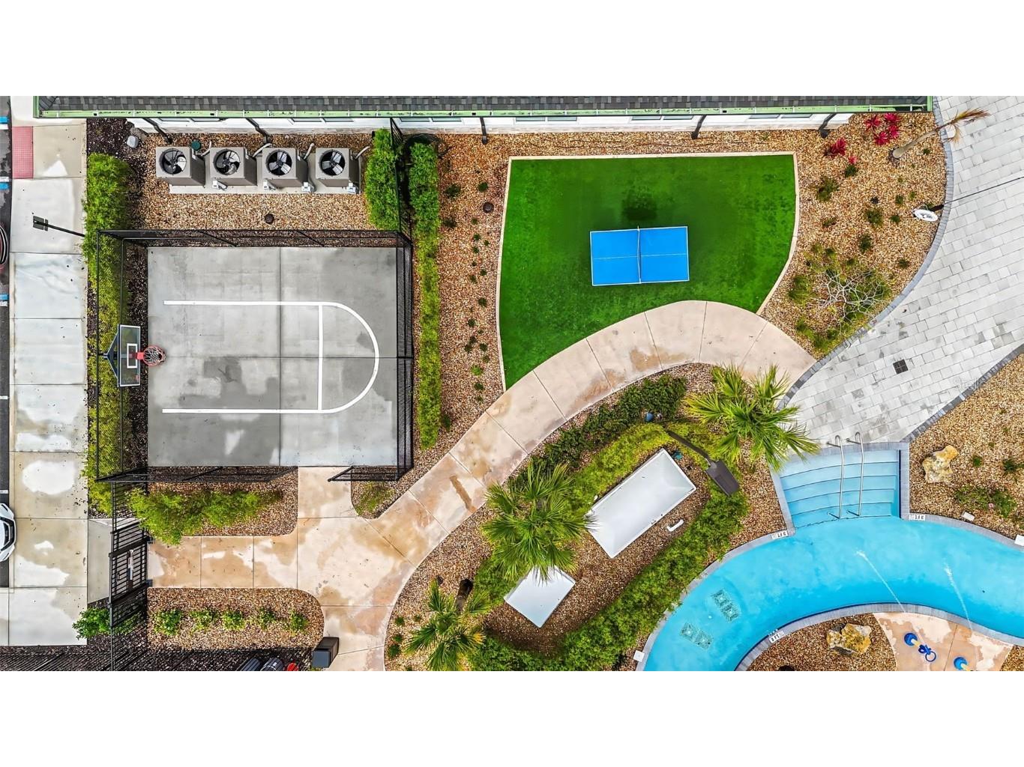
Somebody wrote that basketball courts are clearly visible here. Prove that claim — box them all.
[147,247,410,466]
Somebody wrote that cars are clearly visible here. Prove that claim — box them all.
[0,498,19,564]
[0,224,9,274]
